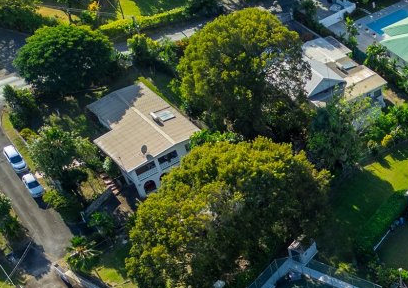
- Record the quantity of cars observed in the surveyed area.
2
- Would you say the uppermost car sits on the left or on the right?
left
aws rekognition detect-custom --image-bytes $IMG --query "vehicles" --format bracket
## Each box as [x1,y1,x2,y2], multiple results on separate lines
[20,174,44,196]
[4,146,27,169]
